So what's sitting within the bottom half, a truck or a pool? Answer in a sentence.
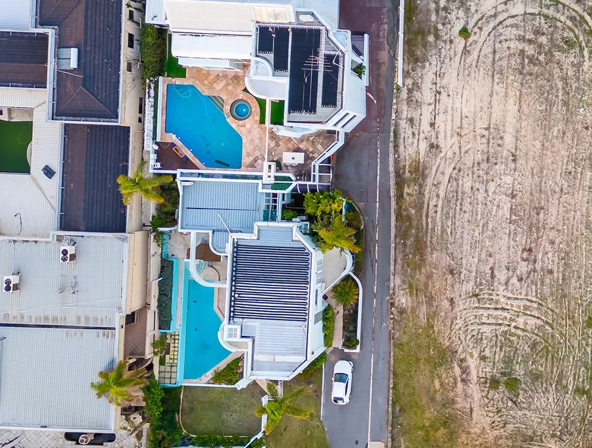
What appears within the bottom half is a pool.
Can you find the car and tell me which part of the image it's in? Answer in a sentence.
The car sits in the bottom section of the image.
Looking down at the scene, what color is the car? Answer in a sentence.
The car is white.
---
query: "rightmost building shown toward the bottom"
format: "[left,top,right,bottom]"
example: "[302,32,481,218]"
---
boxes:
[157,179,350,387]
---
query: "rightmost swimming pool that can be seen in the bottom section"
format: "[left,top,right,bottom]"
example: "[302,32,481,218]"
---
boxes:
[159,258,236,384]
